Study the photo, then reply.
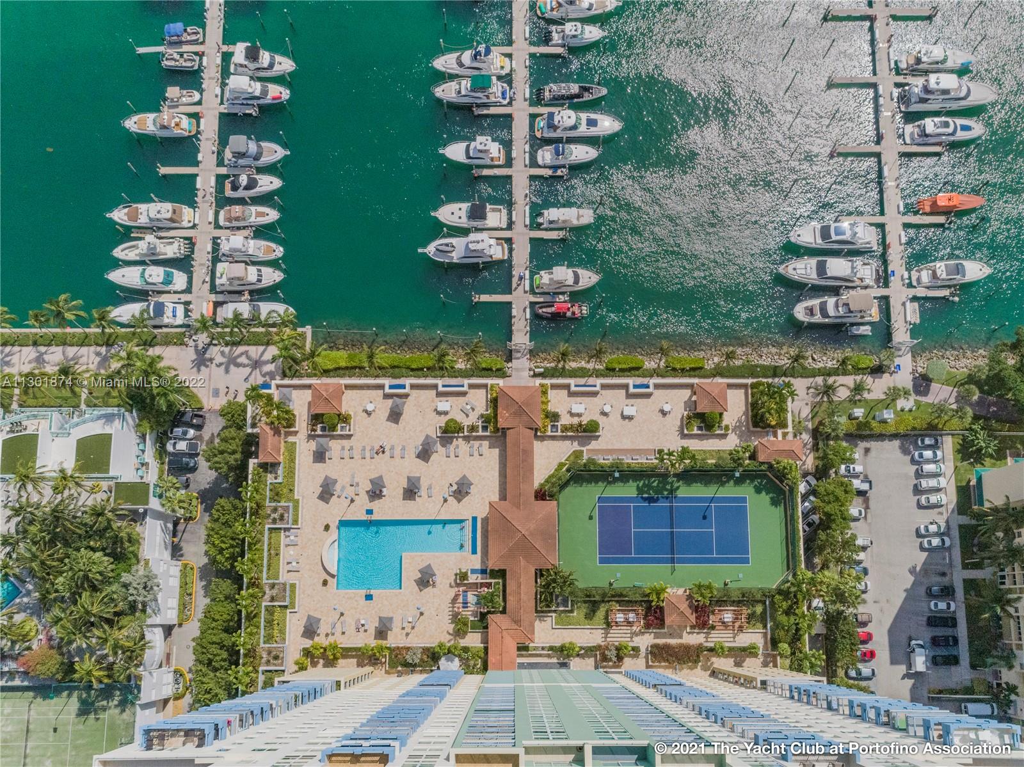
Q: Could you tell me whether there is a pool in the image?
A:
Yes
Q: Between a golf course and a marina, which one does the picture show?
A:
marina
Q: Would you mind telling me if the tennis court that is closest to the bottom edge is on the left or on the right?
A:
left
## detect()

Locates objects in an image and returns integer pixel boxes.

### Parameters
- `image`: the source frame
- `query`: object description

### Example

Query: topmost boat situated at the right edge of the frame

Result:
[889,49,979,78]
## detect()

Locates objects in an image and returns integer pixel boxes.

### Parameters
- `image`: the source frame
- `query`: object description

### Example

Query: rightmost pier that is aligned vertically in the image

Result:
[826,0,960,375]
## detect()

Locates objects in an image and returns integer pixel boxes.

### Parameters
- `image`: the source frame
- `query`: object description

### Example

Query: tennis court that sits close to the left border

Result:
[0,685,131,767]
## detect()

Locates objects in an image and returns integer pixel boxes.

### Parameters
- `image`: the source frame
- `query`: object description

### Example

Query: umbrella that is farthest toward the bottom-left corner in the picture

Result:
[303,613,323,633]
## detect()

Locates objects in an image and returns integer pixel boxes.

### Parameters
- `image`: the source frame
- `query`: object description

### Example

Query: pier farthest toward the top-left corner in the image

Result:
[128,0,261,326]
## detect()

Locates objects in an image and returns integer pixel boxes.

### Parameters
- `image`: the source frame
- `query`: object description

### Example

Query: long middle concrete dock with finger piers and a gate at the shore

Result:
[472,0,570,376]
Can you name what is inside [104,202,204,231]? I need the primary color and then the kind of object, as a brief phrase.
white boat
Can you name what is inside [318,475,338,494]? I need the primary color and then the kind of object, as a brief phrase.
gray umbrella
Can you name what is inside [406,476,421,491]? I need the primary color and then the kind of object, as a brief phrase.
gray umbrella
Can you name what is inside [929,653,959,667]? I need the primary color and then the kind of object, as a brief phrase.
black car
